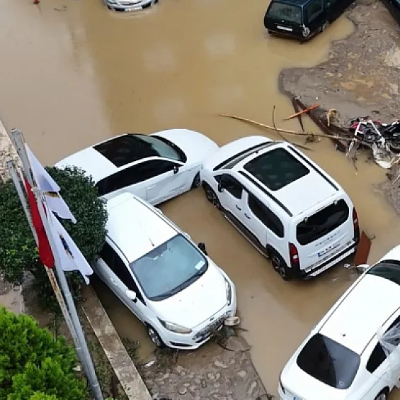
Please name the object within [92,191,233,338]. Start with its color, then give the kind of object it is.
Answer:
white car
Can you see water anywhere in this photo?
Yes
